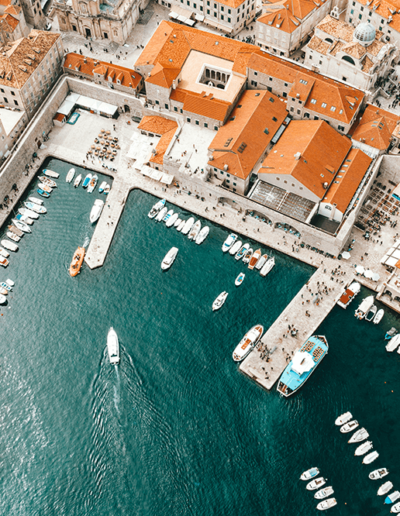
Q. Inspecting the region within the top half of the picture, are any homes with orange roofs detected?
Yes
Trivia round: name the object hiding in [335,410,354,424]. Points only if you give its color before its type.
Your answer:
white boat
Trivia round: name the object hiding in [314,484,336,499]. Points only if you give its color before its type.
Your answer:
white boat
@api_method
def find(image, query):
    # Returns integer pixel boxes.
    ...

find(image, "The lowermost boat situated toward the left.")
[107,324,120,368]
